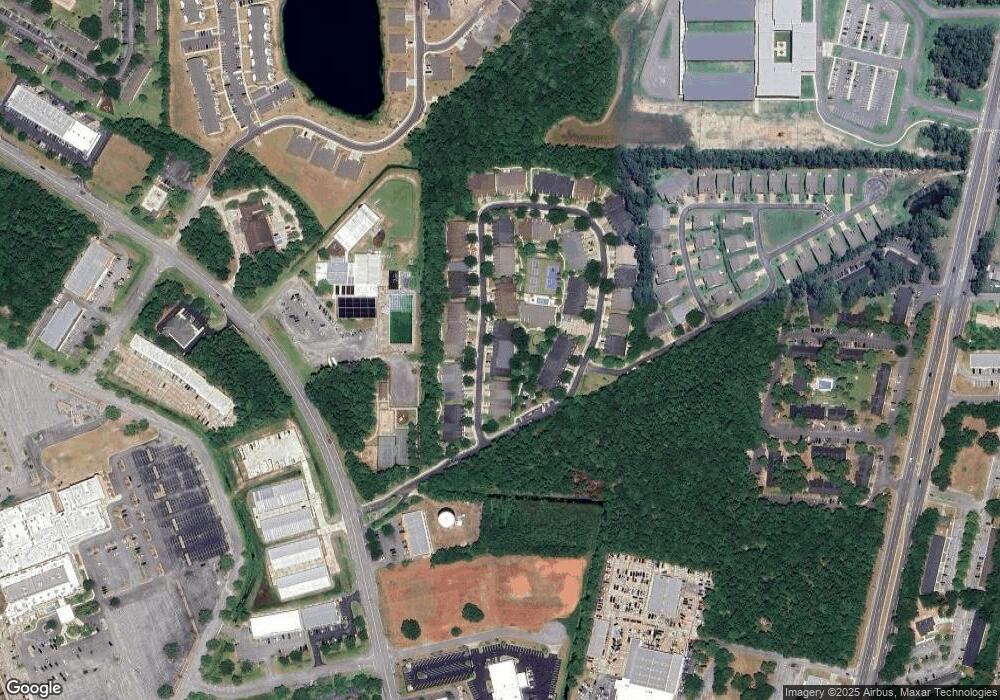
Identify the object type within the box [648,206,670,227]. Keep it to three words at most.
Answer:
house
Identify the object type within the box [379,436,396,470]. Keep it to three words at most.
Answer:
tennis court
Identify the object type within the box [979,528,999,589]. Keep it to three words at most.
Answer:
building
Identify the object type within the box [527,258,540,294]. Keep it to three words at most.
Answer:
sports court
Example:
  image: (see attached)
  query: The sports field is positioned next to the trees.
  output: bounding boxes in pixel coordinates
[374,177,414,238]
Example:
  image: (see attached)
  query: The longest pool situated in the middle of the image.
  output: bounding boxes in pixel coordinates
[525,294,561,308]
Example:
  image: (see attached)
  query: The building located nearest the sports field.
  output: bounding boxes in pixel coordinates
[335,205,378,251]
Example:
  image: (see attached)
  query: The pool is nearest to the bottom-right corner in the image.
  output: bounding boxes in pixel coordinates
[816,378,833,391]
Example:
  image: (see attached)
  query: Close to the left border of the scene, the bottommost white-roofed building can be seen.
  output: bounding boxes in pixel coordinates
[0,475,122,624]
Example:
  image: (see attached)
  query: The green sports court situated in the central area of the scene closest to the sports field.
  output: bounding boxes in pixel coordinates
[390,294,412,344]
